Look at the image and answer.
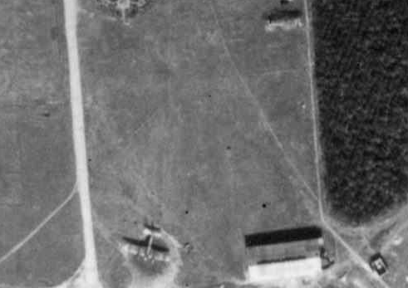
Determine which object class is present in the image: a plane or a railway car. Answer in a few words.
plane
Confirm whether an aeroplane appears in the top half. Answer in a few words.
No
